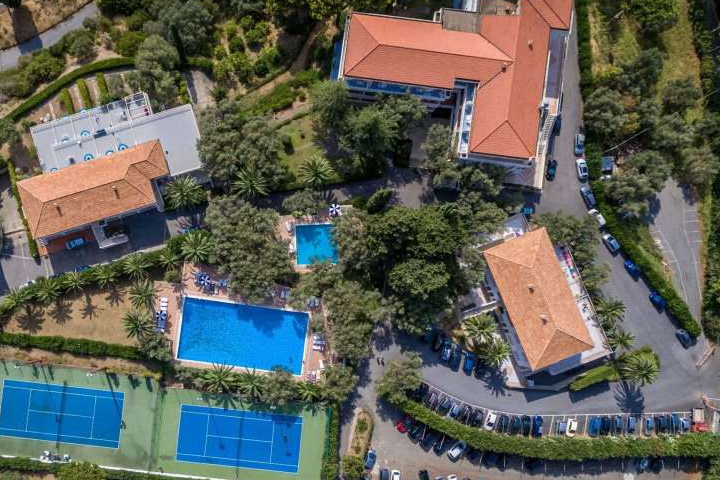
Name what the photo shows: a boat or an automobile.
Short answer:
automobile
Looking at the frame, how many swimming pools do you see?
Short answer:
2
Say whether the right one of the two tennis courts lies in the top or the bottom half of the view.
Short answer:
bottom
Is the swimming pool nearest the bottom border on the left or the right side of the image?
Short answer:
left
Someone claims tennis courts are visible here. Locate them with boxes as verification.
[0,361,157,472]
[148,380,330,480]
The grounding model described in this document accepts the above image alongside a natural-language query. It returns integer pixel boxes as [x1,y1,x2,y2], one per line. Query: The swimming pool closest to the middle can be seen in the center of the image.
[278,204,357,280]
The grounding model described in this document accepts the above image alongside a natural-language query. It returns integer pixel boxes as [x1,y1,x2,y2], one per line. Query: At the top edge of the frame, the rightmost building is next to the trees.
[329,0,575,192]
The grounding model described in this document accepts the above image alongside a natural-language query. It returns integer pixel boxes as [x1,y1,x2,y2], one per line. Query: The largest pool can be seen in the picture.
[154,260,332,384]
